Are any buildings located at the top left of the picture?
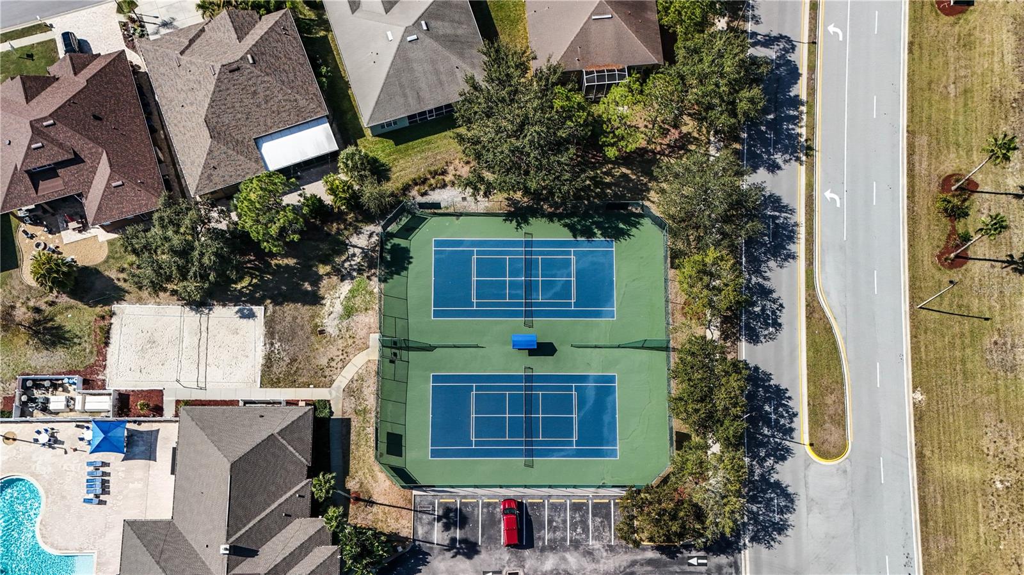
Yes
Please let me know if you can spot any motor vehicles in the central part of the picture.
No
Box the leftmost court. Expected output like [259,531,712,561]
[106,305,264,389]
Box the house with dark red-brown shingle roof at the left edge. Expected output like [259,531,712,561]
[0,49,170,229]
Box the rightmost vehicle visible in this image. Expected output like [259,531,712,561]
[500,499,519,548]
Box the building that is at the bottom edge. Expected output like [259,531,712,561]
[118,407,342,575]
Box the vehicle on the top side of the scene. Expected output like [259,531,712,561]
[61,28,79,54]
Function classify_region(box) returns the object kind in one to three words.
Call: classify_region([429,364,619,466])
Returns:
tennis court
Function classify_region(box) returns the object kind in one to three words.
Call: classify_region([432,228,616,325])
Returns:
tennis court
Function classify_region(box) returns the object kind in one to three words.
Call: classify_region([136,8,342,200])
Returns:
house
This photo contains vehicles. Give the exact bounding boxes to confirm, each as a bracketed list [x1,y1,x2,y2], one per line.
[61,28,79,54]
[500,499,519,548]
